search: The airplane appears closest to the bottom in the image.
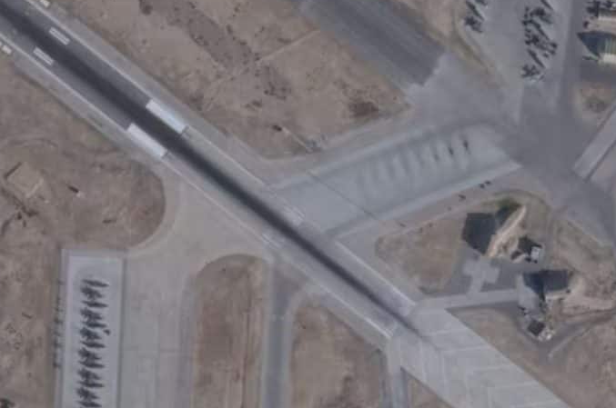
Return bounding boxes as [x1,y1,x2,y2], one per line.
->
[81,388,101,404]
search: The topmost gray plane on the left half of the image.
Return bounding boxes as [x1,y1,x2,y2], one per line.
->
[86,285,106,300]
